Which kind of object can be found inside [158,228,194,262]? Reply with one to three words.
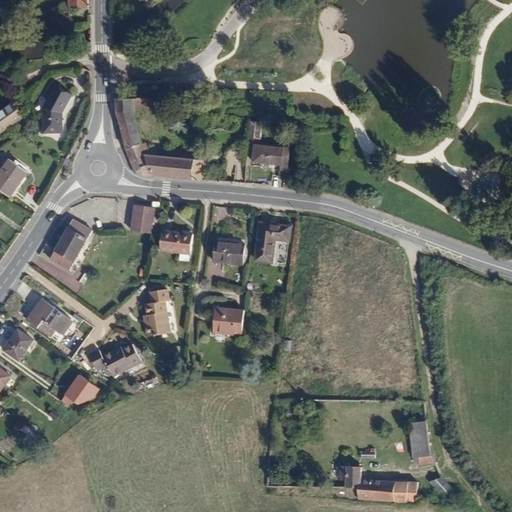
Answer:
house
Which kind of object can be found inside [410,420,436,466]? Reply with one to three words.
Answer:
barn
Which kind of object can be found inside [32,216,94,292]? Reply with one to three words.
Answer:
house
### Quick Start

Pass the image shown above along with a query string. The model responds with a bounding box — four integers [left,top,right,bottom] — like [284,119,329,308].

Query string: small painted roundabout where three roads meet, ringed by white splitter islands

[59,104,151,200]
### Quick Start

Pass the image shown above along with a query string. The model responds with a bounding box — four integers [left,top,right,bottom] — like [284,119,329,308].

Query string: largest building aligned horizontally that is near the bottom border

[356,478,420,504]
